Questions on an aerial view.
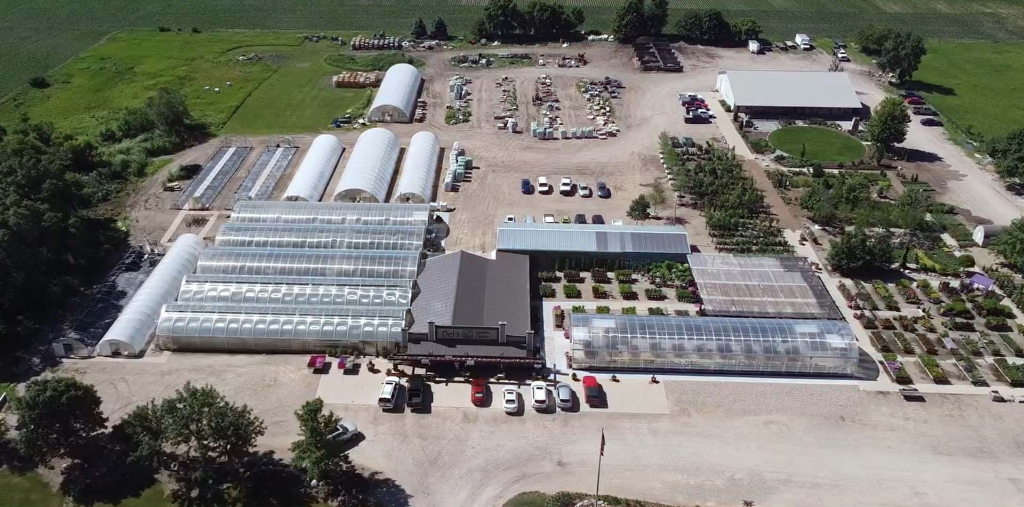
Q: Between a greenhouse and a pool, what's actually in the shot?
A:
greenhouse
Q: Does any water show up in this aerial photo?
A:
No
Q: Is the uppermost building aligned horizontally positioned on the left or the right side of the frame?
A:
right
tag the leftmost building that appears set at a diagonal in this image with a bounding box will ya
[47,227,174,359]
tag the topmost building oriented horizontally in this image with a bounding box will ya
[712,70,862,122]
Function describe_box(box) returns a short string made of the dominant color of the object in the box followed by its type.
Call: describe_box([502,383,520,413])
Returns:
white car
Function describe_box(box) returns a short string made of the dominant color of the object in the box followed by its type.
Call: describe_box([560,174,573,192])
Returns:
white vehicle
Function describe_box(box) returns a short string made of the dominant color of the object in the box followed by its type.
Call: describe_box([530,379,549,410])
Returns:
white car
